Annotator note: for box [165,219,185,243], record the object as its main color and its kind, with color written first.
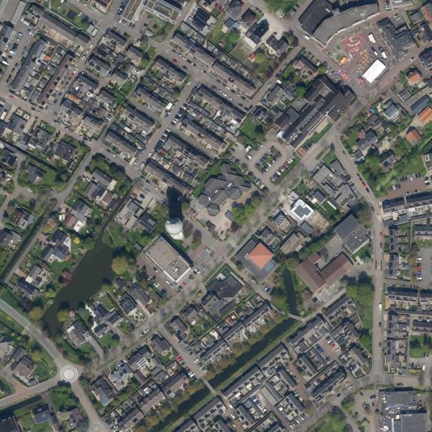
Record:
white water tower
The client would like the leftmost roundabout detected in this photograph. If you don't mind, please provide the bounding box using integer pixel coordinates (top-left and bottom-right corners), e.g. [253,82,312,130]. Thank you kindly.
[54,359,83,388]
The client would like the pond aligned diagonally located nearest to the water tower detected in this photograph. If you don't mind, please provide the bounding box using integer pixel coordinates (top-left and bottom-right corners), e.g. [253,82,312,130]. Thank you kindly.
[45,239,113,329]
